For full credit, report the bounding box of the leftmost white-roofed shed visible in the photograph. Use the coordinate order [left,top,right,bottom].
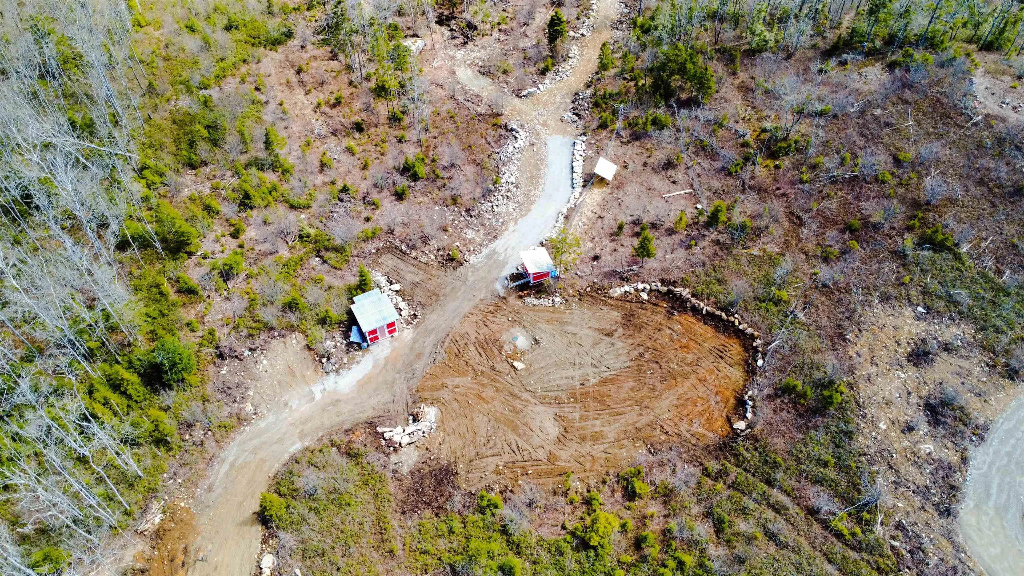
[354,290,402,344]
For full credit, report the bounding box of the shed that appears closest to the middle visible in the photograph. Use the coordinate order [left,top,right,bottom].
[522,245,557,286]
